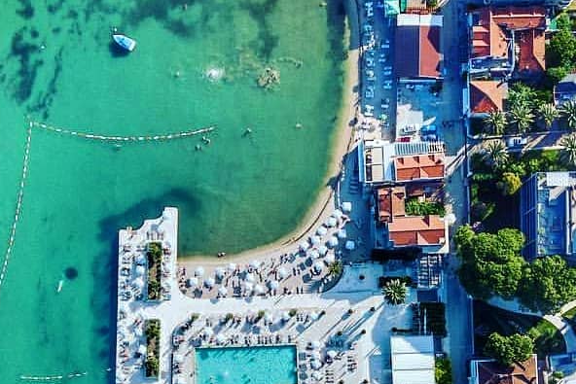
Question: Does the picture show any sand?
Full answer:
Yes, there is sand in the image.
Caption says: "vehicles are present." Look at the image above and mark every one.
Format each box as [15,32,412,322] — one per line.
[419,123,438,132]
[419,133,438,141]
[506,137,525,145]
